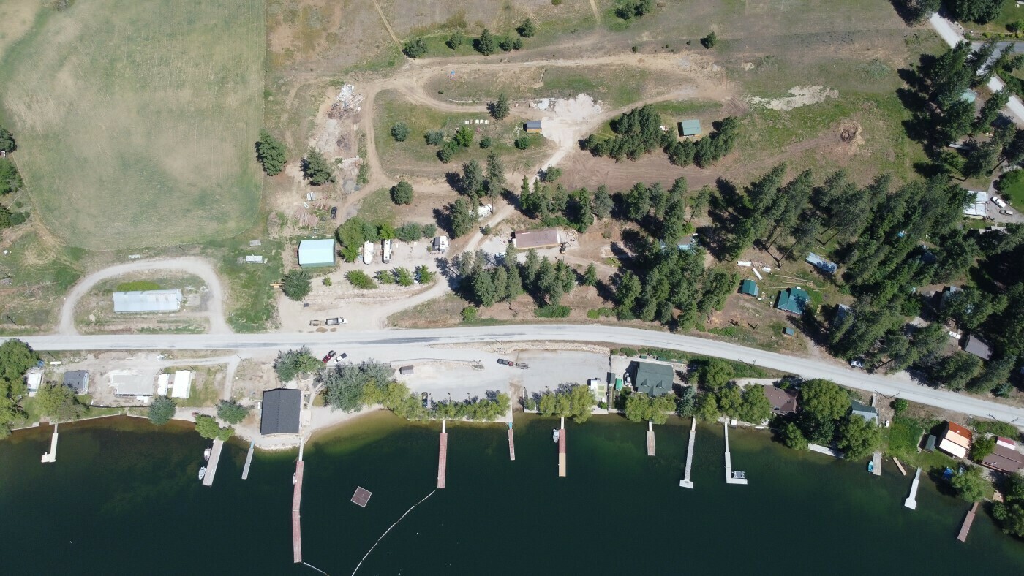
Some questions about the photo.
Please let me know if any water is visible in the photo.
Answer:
Yes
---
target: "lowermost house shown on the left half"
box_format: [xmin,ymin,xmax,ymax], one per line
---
[260,389,303,436]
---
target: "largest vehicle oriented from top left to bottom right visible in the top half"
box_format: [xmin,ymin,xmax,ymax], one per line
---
[990,195,1008,209]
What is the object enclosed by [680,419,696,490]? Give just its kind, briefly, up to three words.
pier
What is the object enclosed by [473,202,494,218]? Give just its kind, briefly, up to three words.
vehicle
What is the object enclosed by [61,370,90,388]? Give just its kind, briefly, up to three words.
house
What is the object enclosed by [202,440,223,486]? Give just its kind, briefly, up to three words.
pier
